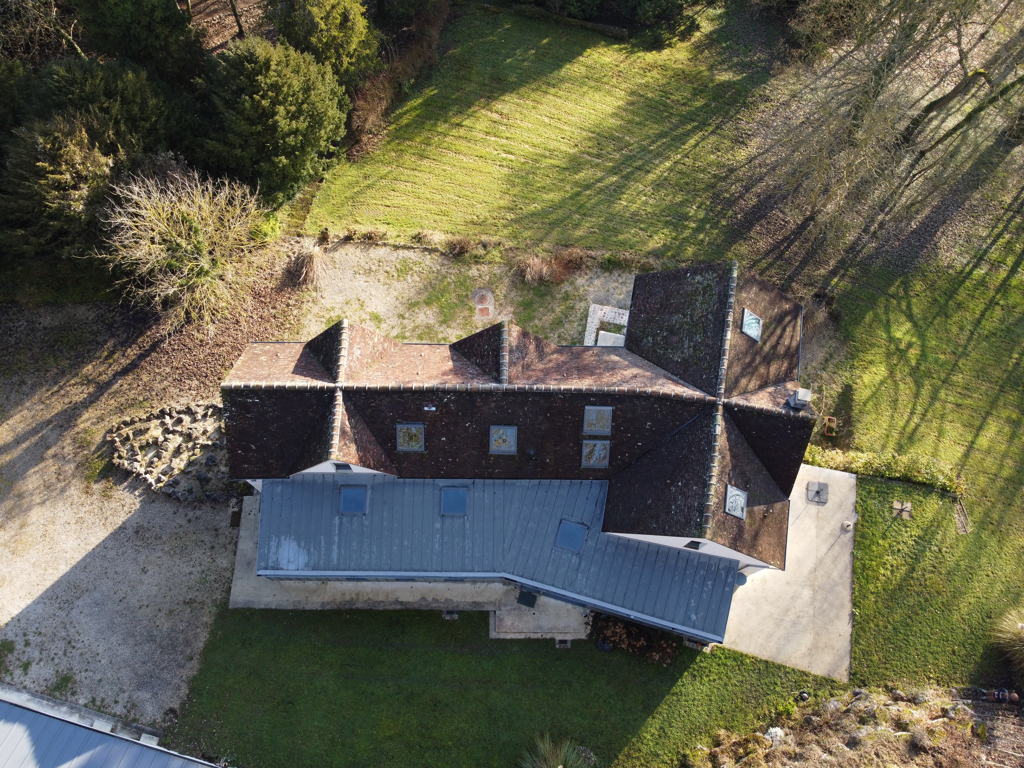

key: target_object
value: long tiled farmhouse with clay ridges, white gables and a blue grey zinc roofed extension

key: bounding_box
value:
[219,259,818,646]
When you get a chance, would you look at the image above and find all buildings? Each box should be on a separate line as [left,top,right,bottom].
[219,259,818,646]
[0,694,245,768]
